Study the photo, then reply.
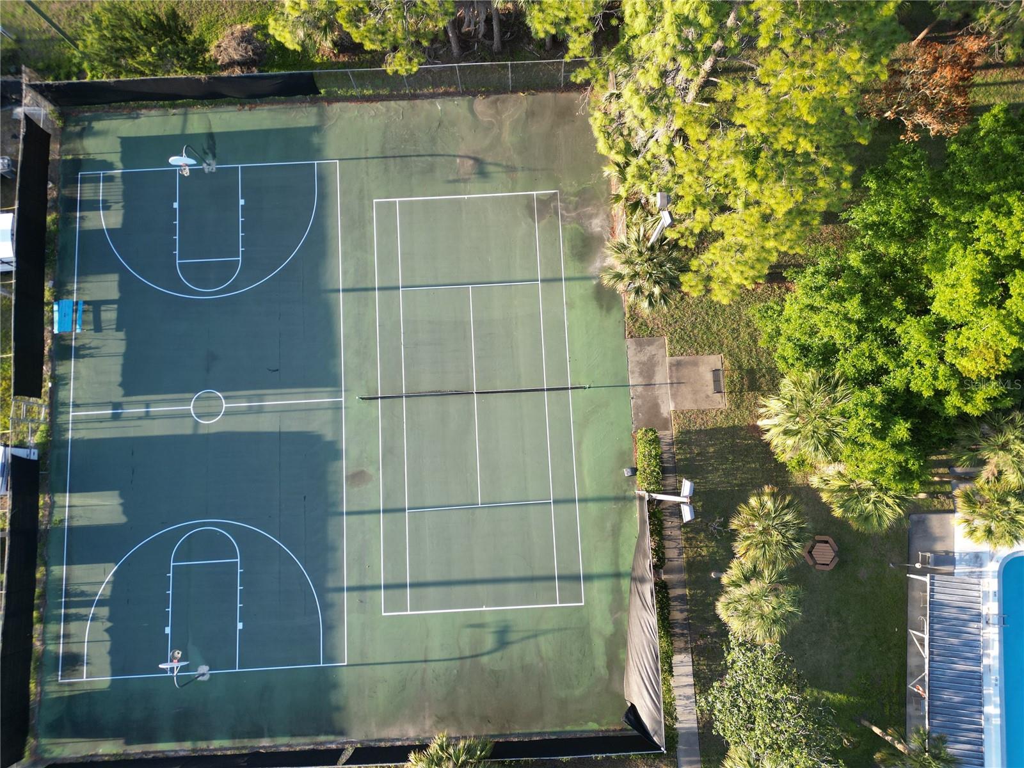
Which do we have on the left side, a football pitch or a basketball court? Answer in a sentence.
You can see a basketball court on the left side.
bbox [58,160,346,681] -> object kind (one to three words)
basketball court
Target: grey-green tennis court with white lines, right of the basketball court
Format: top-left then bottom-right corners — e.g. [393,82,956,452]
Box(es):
[374,191,584,614]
